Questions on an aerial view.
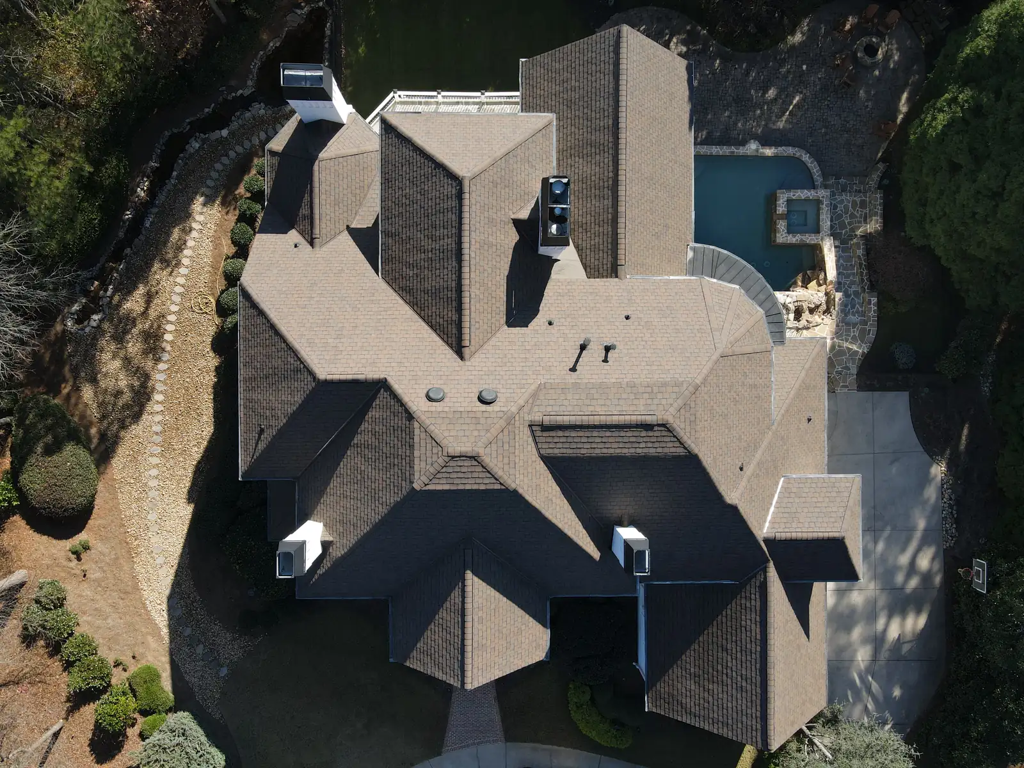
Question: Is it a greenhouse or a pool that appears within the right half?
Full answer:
What appears within the right half is a pool.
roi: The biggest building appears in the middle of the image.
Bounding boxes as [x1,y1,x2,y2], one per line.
[237,24,864,750]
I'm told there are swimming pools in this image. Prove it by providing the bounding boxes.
[696,147,831,298]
